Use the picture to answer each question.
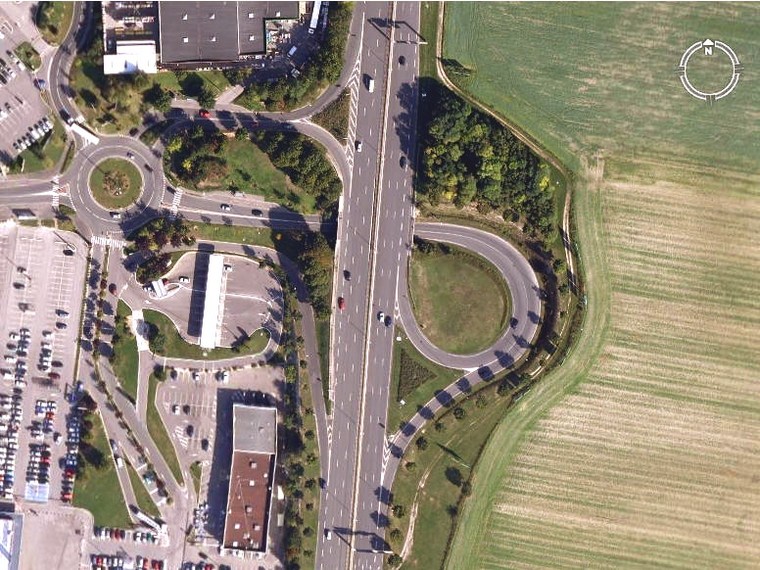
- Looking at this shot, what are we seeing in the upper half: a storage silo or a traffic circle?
traffic circle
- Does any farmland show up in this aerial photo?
Yes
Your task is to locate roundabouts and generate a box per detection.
[70,137,164,230]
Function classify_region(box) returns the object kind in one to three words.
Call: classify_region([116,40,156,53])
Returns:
greenhouse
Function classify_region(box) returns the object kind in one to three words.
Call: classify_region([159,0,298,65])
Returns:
building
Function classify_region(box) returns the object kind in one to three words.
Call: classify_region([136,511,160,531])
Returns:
bus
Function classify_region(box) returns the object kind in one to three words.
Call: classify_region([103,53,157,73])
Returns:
building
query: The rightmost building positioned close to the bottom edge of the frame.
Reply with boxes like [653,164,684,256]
[220,404,277,561]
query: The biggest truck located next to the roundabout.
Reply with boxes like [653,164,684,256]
[65,118,99,145]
